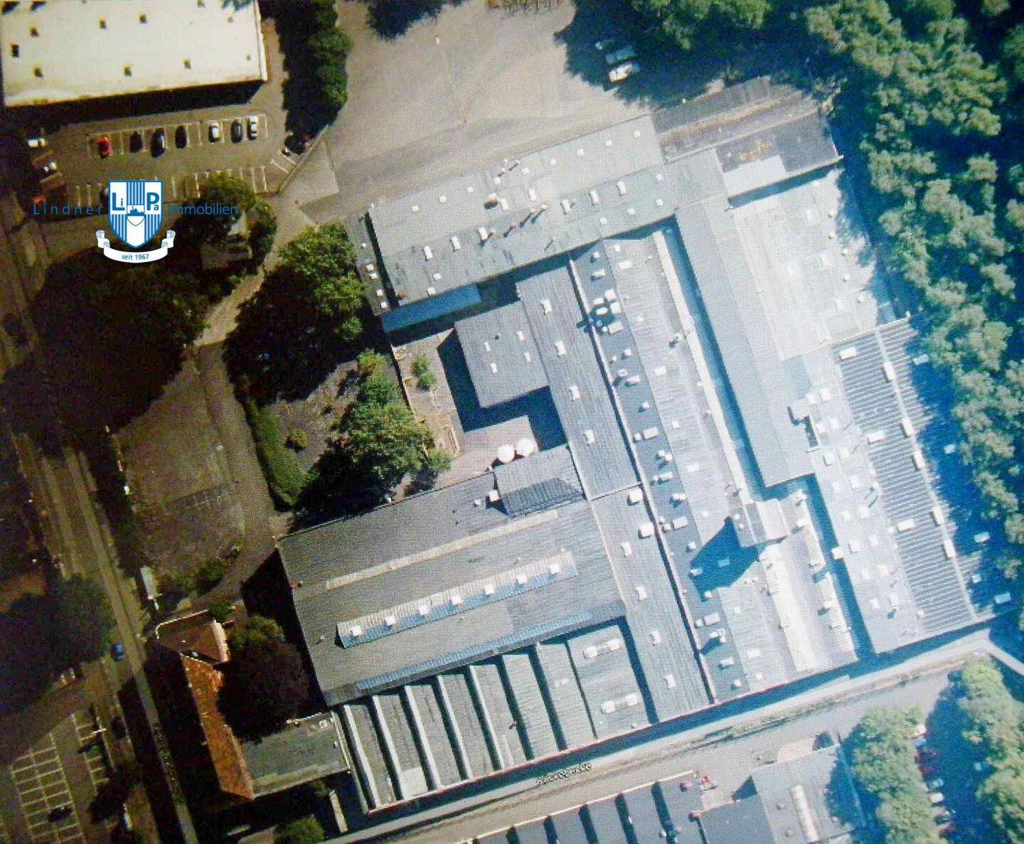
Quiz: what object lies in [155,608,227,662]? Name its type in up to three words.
house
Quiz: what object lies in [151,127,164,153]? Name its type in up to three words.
vehicle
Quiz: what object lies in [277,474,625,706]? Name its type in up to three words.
building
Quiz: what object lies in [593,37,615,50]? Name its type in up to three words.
vehicle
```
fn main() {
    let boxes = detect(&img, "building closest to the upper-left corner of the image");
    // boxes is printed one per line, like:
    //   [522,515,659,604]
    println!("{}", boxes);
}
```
[0,0,270,110]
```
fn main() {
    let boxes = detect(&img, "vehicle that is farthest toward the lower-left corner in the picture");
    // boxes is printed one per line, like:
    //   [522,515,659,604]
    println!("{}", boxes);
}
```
[48,806,71,822]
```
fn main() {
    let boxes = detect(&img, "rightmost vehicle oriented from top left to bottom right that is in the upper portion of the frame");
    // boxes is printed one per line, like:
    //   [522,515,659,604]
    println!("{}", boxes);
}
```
[279,138,296,157]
